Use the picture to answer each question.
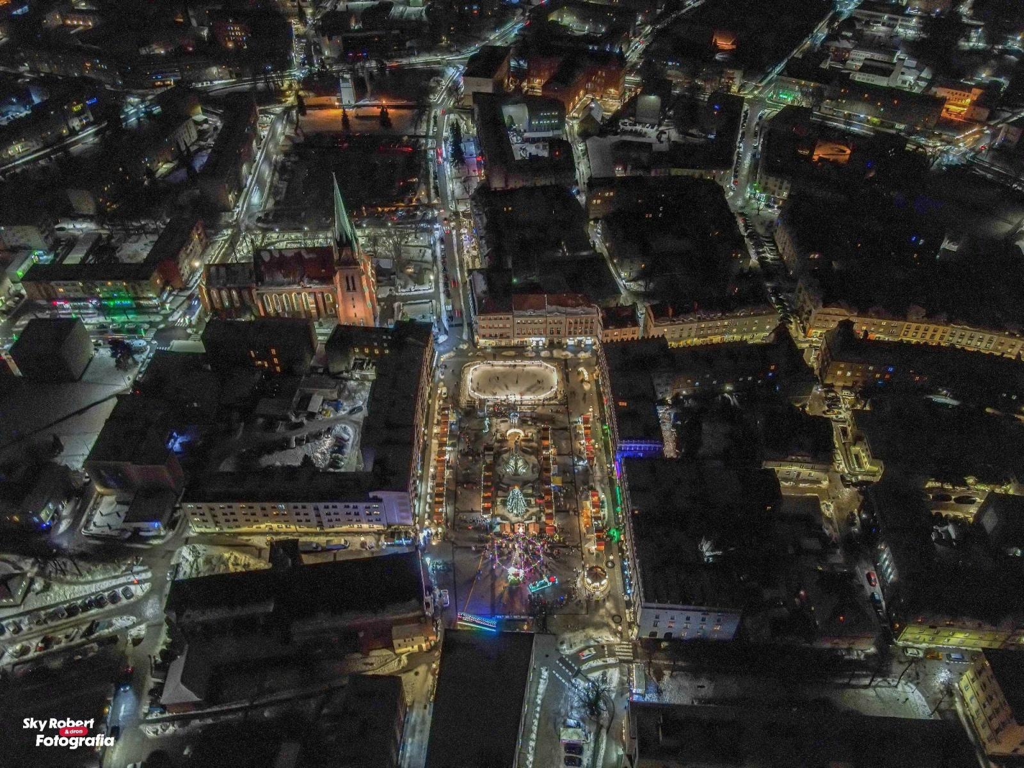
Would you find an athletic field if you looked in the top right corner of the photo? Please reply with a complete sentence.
No, no athletic field can be made out in the top right corner of the photo.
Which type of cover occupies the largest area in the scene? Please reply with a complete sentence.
The largest share of the image is taken up by buildings.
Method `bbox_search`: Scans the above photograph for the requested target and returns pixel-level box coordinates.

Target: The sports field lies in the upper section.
[298,108,425,136]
